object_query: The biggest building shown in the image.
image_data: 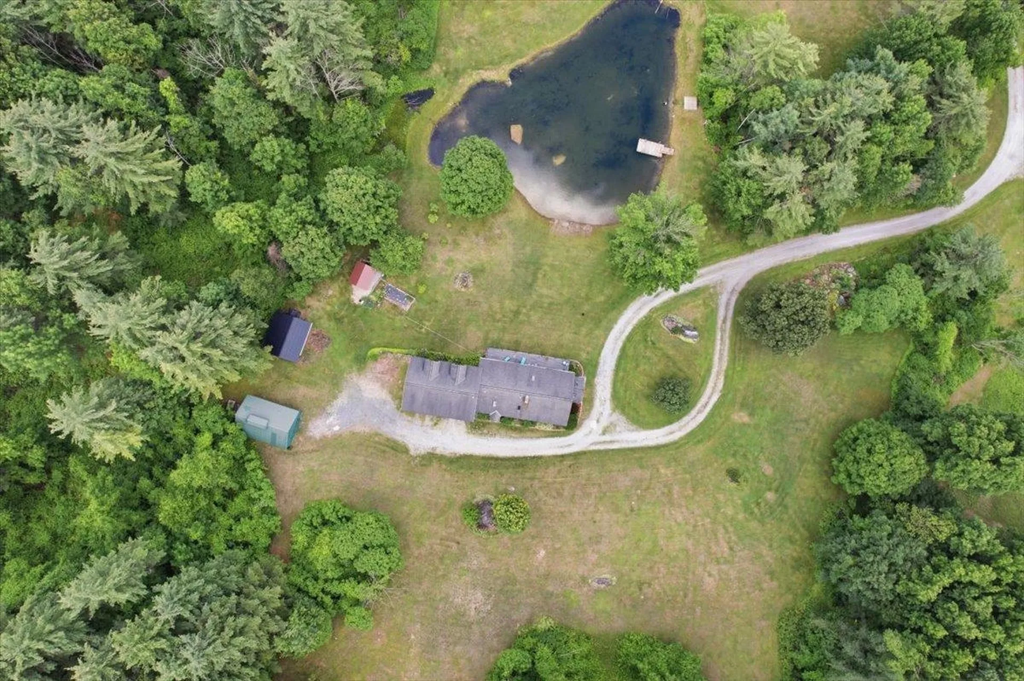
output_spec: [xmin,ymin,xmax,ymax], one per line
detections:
[400,347,586,426]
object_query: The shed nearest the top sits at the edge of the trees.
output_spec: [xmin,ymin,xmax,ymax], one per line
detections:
[349,262,382,291]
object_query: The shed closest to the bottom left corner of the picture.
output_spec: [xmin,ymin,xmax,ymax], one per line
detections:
[236,394,303,449]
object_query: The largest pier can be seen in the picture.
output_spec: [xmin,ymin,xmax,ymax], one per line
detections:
[637,138,665,157]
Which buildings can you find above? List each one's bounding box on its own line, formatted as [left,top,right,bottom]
[236,394,303,449]
[400,347,586,426]
[265,311,317,362]
[349,262,382,291]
